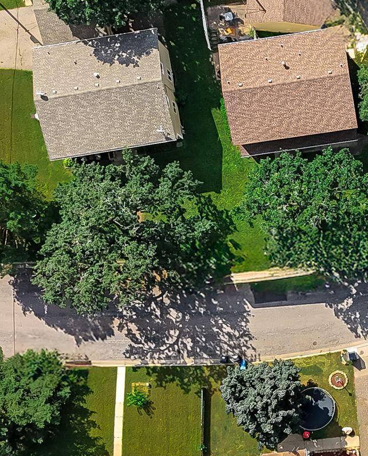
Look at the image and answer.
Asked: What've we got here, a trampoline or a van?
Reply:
trampoline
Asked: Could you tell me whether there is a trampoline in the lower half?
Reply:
Yes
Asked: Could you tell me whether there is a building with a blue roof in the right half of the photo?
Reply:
No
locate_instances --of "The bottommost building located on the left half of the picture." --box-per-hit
[32,26,187,169]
